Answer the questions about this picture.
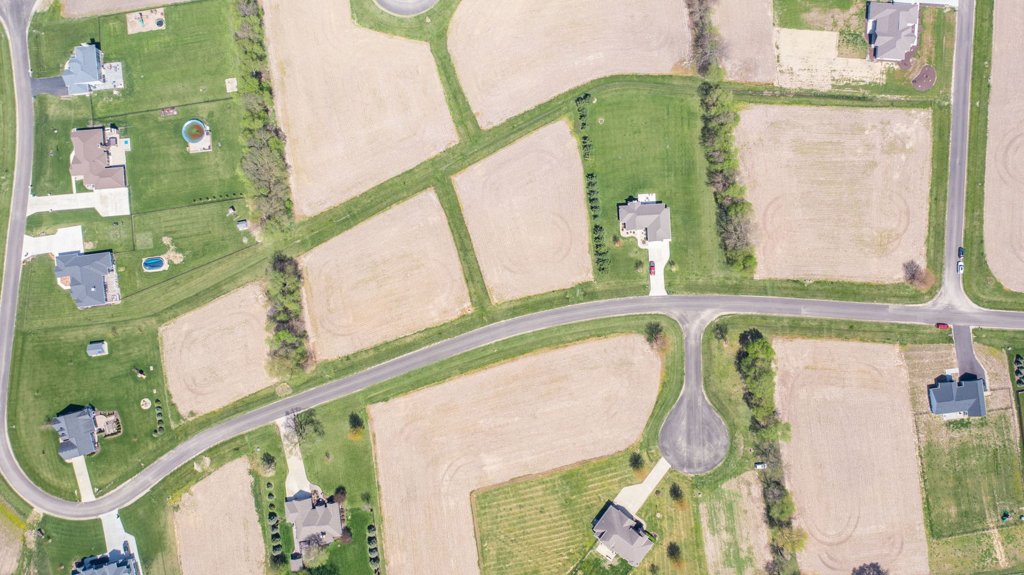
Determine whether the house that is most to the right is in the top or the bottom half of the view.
bottom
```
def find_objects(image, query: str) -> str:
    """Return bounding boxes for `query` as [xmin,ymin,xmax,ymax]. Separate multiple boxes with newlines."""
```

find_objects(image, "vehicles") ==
[754,463,767,469]
[650,261,656,275]
[123,542,131,558]
[959,247,966,258]
[936,323,949,329]
[958,262,965,274]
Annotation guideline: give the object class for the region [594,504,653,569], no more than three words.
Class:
house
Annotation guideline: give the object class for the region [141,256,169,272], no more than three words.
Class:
swimming pool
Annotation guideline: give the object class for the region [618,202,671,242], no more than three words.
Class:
house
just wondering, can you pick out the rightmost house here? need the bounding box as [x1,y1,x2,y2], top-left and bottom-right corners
[927,380,986,416]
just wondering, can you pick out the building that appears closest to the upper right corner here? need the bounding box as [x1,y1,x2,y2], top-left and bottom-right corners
[867,0,919,61]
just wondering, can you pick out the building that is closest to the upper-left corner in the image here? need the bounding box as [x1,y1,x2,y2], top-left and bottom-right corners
[63,41,105,95]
